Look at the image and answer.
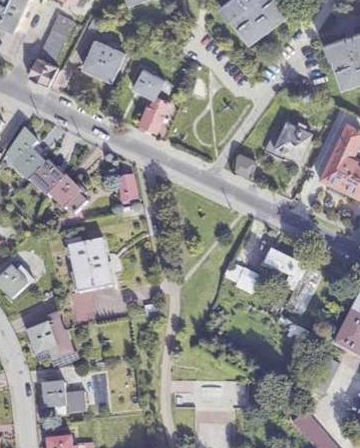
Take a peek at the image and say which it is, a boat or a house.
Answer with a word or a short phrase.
house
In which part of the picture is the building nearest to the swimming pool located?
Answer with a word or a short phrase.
bottom left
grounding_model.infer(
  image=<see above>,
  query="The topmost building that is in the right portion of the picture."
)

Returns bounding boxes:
[220,0,286,48]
